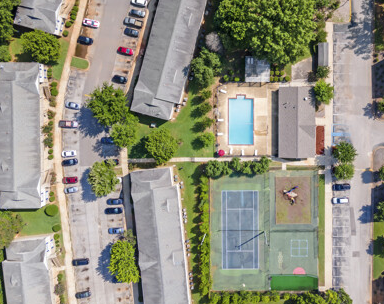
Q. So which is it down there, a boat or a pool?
pool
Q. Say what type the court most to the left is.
tennis court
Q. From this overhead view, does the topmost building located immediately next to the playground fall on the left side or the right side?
right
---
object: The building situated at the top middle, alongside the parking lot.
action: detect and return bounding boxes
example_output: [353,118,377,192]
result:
[132,0,209,120]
